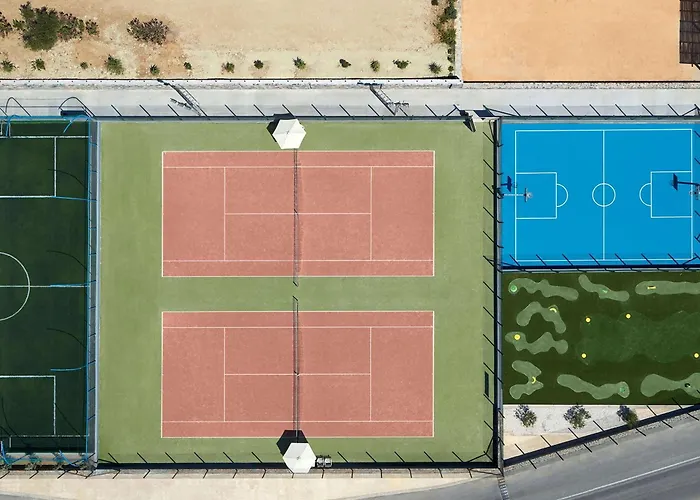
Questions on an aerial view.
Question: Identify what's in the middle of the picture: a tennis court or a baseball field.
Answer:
tennis court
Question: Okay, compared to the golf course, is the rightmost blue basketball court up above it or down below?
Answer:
above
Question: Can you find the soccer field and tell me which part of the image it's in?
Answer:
left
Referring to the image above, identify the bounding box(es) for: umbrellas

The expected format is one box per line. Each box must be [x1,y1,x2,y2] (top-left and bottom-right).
[272,119,306,149]
[283,443,317,473]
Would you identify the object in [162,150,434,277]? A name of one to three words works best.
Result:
tennis court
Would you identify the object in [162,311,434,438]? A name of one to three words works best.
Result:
tennis court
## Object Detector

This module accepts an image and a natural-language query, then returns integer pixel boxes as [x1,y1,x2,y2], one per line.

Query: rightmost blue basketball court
[502,122,700,268]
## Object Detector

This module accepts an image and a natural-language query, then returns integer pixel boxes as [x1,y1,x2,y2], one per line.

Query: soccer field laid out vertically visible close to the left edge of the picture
[0,122,90,451]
